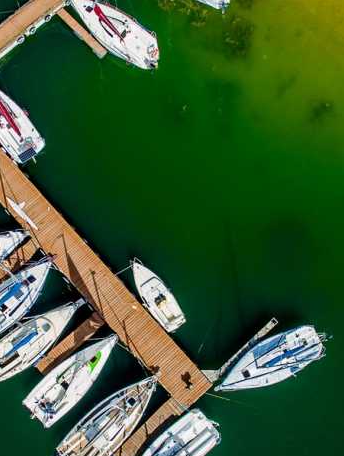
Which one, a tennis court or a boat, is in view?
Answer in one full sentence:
This aerial view contains a boat.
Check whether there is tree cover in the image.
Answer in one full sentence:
No, tree cover can't be seen anywhere here.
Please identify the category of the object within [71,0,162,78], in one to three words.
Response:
boat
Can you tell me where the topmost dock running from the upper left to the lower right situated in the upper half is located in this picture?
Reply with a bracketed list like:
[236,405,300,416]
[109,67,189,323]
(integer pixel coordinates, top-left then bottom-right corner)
[57,6,107,60]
